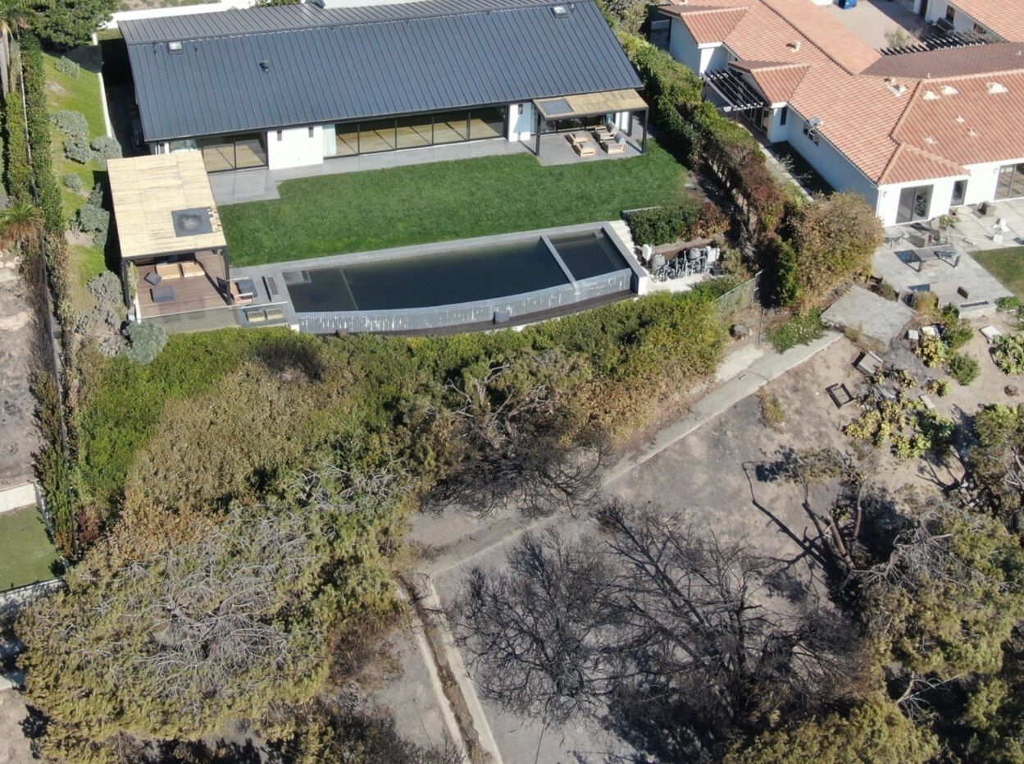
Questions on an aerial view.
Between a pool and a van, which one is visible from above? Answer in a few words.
pool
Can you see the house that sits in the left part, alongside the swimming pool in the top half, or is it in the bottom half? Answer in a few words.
top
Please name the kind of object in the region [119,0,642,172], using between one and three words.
house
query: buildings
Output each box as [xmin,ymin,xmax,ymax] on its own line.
[119,0,642,172]
[650,0,1024,227]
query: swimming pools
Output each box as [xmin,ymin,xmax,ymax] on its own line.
[232,220,650,361]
